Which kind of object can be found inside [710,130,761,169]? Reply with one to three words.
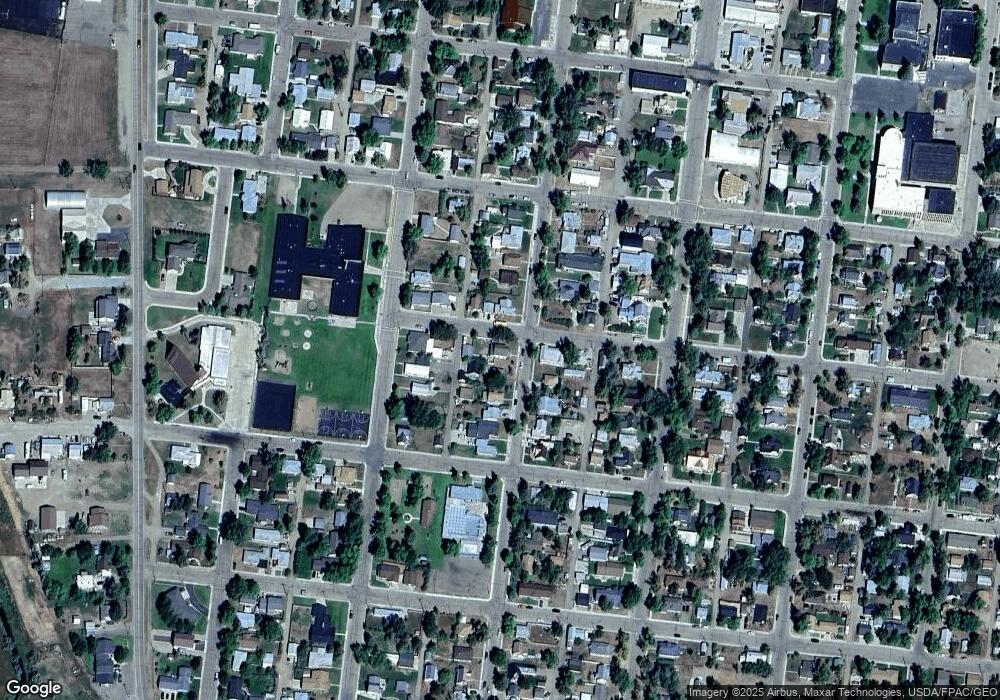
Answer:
building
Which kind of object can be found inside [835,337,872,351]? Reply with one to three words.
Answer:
house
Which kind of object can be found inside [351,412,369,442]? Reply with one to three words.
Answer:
basketball court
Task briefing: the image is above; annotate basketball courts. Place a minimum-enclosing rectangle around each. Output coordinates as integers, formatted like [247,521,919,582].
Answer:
[351,412,369,442]
[334,410,353,439]
[317,409,337,437]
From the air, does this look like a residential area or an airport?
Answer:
residential area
